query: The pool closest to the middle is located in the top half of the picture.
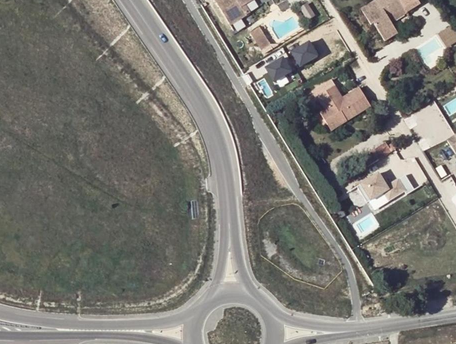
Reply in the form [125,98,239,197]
[256,78,274,100]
